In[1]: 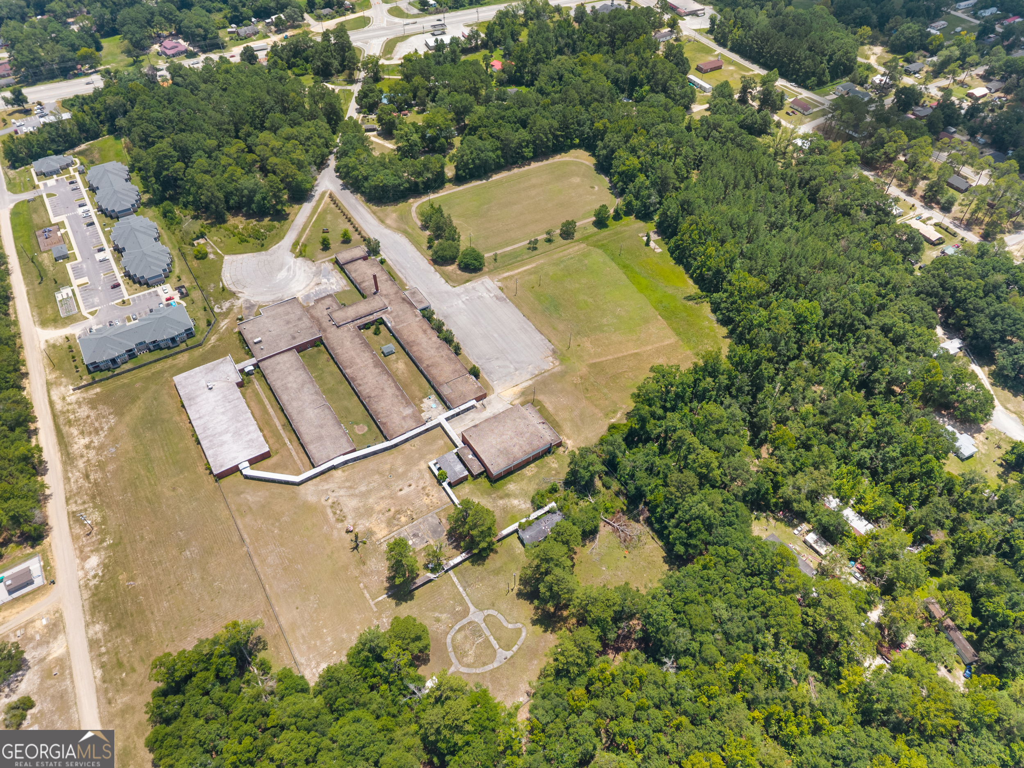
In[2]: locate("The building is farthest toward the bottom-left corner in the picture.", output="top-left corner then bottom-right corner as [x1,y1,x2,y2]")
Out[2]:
[2,564,37,586]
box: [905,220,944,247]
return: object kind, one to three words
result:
house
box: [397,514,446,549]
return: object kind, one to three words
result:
sports court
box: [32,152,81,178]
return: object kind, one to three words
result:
building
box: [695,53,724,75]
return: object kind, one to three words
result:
building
